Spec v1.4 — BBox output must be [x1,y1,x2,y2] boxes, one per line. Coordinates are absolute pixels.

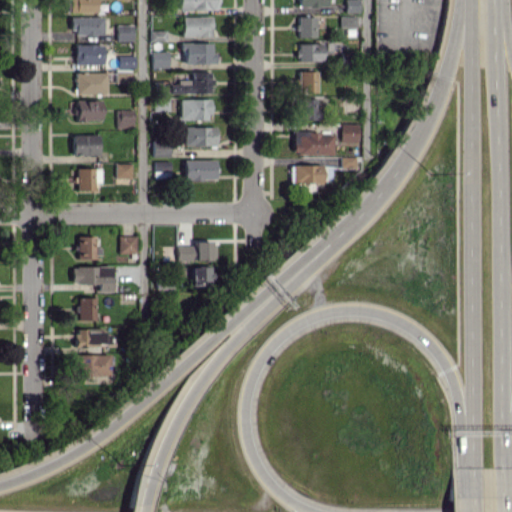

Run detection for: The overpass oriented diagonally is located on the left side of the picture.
[128,329,248,512]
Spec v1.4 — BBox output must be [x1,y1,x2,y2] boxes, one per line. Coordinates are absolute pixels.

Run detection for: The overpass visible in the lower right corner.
[448,425,512,512]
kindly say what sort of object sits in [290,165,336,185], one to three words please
house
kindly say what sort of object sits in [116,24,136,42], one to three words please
building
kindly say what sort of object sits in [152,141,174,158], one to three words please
building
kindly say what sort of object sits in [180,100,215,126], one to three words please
house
